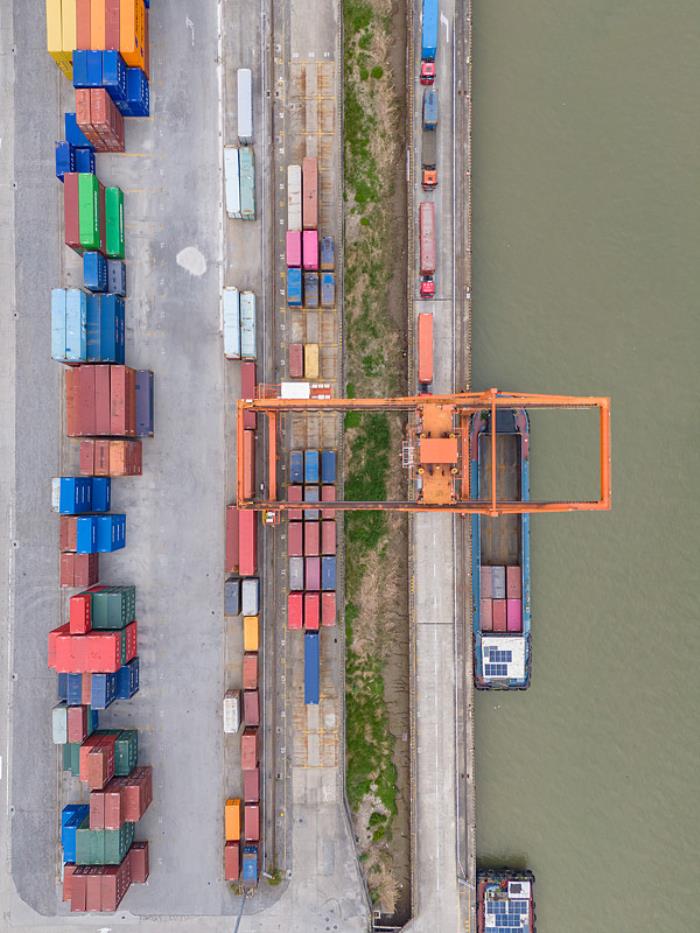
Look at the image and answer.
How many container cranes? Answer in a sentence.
The picture shows just 1 container crane.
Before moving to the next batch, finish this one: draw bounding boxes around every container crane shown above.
[239,383,610,538]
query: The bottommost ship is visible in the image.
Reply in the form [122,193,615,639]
[476,865,537,933]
